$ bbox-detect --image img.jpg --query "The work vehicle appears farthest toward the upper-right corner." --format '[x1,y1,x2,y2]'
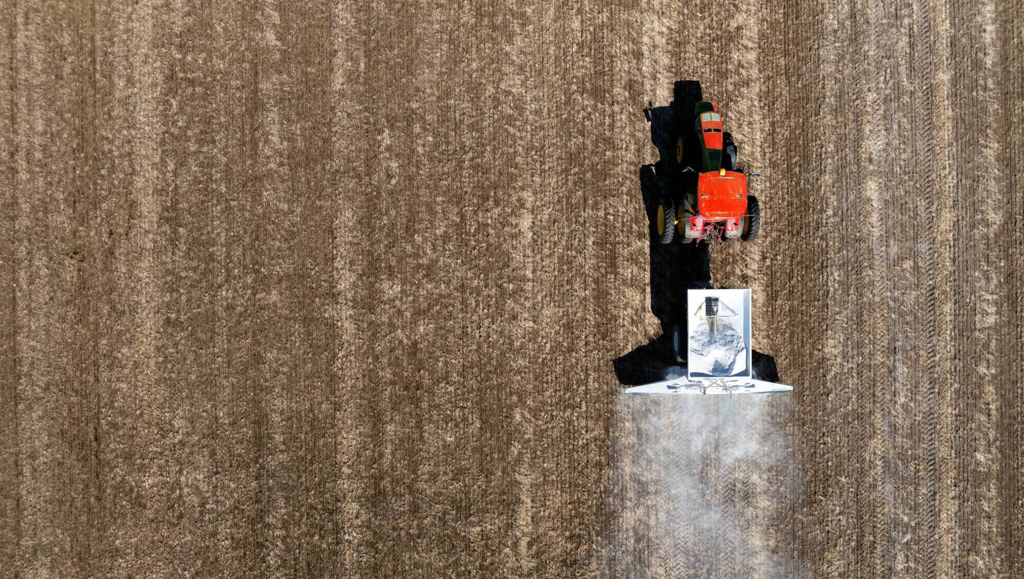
[656,101,761,253]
